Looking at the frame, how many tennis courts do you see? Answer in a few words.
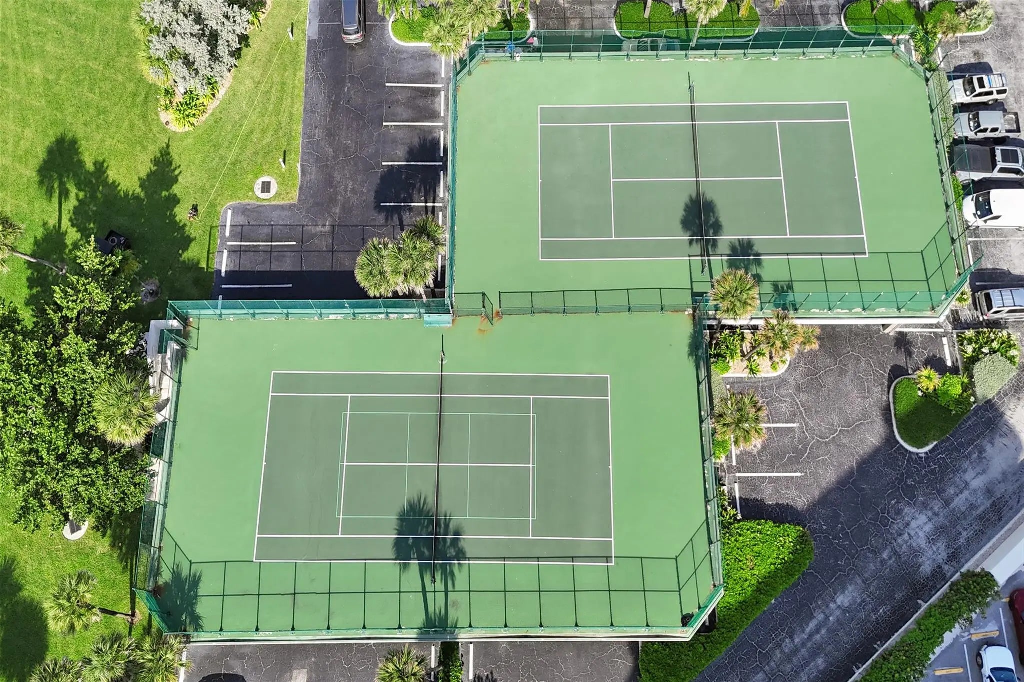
2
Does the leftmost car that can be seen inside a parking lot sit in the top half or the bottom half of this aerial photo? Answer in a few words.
top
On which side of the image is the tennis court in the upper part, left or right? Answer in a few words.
right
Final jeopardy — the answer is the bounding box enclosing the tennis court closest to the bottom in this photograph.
[155,315,714,631]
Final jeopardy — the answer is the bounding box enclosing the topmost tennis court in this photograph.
[453,52,960,316]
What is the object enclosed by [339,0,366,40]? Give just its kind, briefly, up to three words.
car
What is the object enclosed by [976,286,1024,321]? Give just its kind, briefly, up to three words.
car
